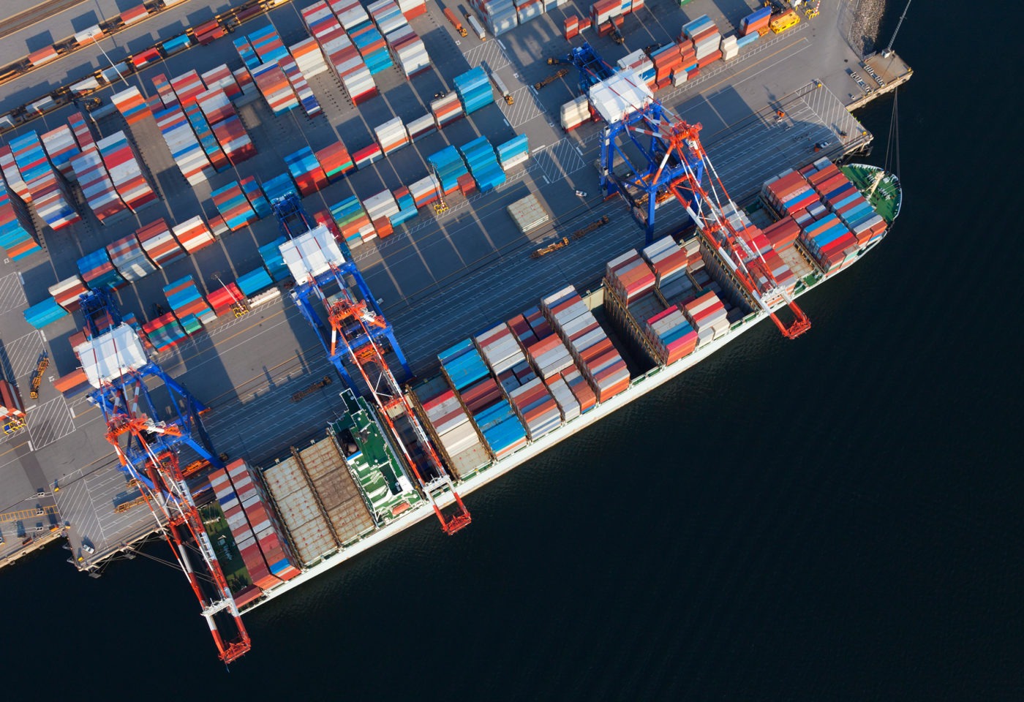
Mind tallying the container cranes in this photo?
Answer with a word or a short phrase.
3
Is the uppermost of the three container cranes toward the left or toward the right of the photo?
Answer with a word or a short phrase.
right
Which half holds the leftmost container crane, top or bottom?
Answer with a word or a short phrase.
bottom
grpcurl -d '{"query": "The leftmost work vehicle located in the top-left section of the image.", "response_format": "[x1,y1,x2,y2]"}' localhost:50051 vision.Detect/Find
[88,91,122,110]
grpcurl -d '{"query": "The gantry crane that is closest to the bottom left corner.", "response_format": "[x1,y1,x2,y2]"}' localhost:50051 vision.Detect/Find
[71,277,255,667]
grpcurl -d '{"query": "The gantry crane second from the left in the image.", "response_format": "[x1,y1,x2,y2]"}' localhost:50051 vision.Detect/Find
[262,183,477,538]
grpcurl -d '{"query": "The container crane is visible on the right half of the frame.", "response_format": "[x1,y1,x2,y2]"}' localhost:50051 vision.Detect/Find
[559,35,819,340]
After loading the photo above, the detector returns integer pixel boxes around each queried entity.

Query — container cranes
[559,35,819,340]
[71,277,255,667]
[262,183,477,538]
